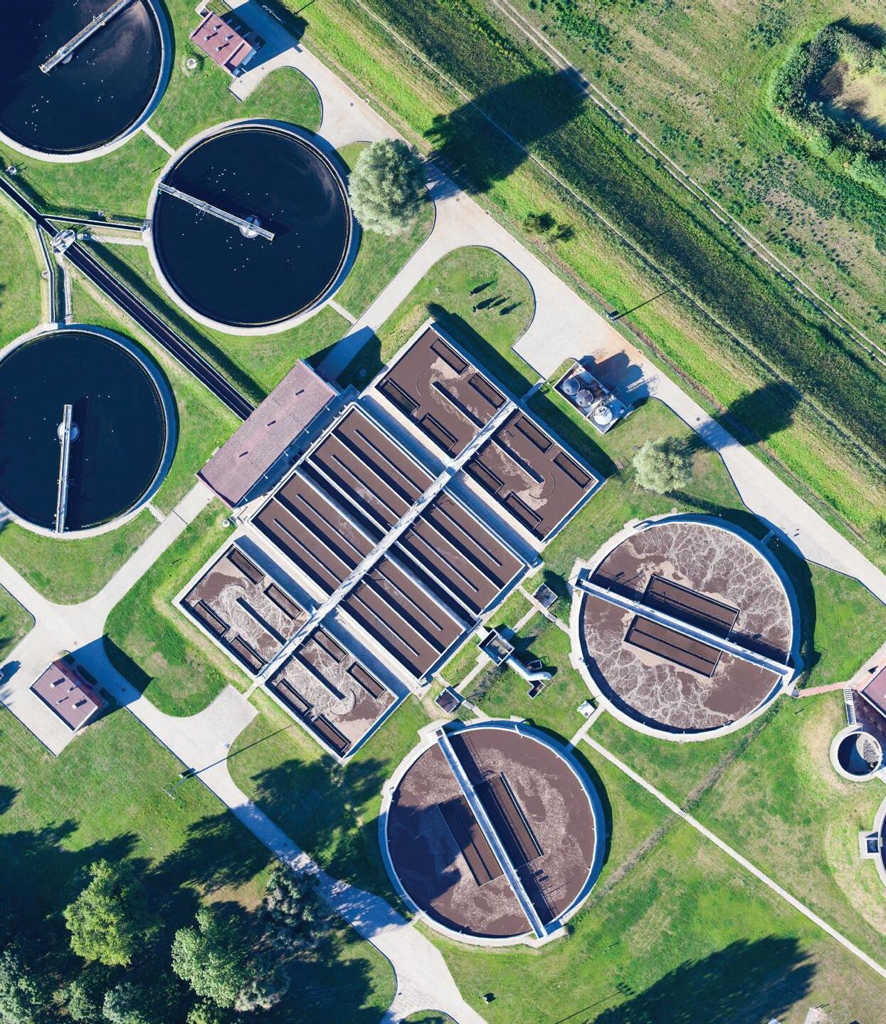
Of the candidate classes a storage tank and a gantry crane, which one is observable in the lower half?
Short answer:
storage tank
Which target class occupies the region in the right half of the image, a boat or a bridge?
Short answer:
bridge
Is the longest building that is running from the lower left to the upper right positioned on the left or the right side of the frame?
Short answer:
left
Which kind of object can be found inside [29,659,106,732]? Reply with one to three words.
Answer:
building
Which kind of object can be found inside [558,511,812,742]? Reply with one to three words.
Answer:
storage tank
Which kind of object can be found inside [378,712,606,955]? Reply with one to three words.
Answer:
storage tank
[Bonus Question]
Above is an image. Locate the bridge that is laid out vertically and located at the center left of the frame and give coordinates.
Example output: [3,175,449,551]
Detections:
[53,403,74,534]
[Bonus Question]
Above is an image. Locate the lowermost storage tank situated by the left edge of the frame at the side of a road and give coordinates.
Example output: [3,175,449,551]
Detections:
[0,323,177,539]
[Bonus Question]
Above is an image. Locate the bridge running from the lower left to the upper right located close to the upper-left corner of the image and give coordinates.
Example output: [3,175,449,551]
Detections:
[38,0,133,73]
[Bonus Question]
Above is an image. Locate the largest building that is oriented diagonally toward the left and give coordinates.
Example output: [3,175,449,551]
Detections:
[197,358,341,511]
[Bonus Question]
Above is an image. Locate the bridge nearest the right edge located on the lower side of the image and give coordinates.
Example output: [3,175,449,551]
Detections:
[575,570,798,681]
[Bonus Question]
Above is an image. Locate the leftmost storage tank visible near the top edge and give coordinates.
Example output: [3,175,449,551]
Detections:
[0,0,172,163]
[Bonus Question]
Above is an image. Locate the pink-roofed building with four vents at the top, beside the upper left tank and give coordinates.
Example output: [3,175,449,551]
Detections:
[190,11,260,77]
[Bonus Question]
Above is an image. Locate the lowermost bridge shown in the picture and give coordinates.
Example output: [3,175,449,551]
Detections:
[433,725,550,944]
